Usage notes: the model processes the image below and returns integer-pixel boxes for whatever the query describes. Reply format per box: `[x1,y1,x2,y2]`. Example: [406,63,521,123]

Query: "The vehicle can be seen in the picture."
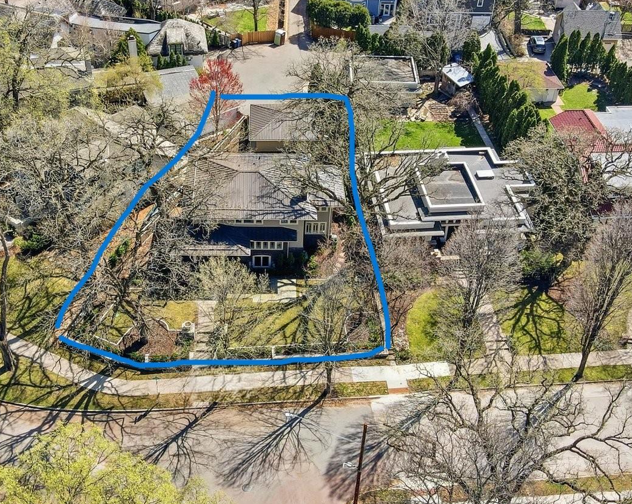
[526,38,550,51]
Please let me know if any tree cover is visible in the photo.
Yes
